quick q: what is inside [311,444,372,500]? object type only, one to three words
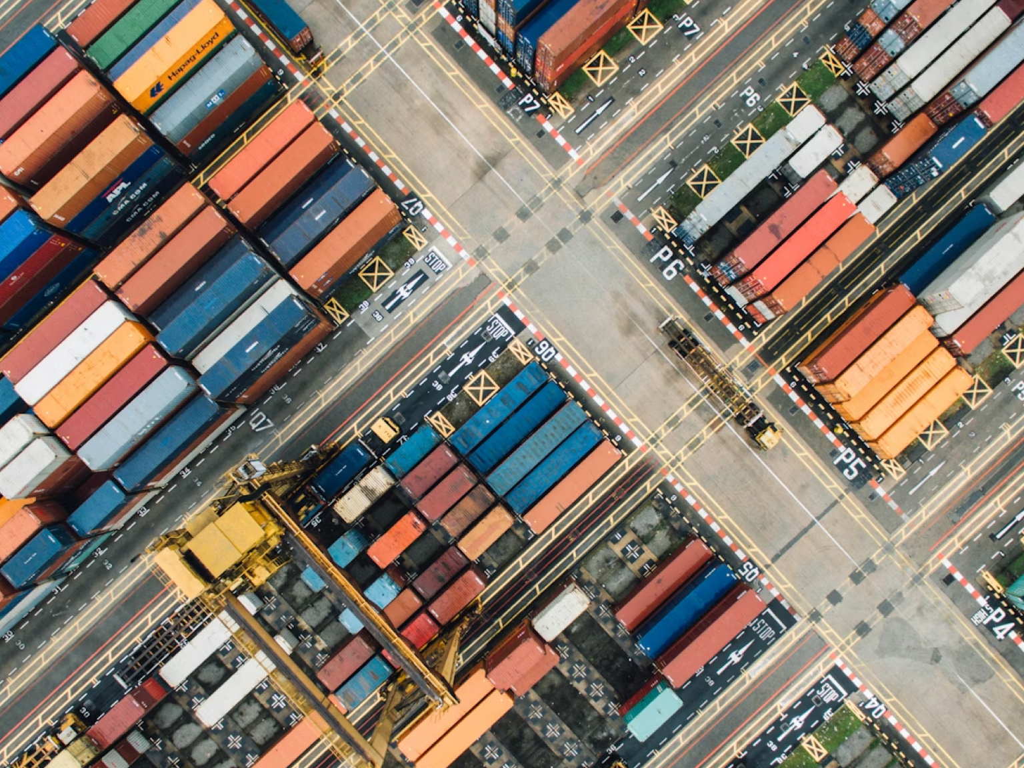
shipping container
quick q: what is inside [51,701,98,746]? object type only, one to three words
work vehicle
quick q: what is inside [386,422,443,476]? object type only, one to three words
shipping container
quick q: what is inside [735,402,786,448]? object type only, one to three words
work vehicle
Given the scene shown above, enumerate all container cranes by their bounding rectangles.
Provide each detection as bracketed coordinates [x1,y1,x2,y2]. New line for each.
[142,438,484,768]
